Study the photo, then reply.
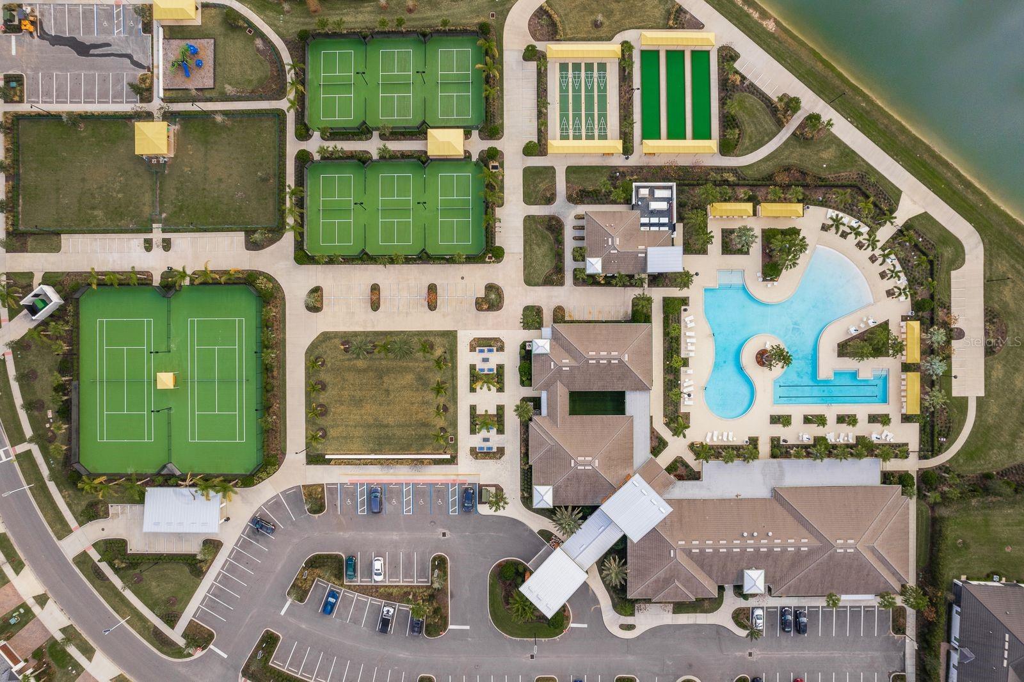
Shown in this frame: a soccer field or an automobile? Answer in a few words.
automobile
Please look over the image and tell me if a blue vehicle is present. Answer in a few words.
Yes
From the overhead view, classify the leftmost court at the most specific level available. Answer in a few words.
tennis court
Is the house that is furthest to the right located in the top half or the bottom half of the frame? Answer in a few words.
bottom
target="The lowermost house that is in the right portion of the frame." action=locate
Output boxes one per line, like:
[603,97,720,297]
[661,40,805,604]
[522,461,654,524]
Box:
[951,580,1024,682]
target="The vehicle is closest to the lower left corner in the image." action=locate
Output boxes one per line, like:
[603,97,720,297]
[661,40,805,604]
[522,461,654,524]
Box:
[251,516,275,535]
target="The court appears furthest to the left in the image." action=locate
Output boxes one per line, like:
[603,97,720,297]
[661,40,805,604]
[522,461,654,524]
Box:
[79,285,167,474]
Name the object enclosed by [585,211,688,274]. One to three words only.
building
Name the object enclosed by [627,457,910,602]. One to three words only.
building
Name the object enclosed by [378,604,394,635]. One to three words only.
vehicle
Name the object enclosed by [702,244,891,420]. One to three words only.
swimming pool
